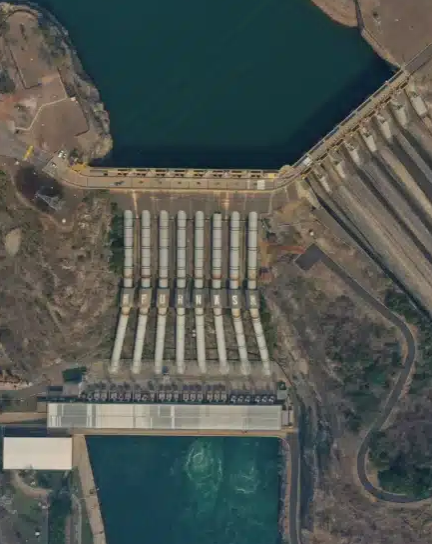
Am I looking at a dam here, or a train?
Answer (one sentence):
I can see a dam in this picture.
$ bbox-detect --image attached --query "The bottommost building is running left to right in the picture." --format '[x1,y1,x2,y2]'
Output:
[3,435,74,470]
